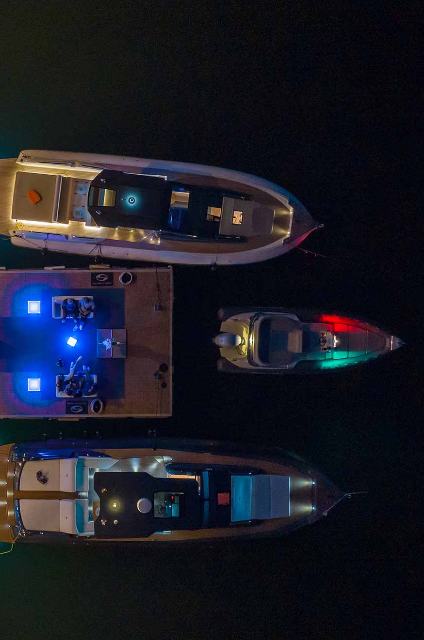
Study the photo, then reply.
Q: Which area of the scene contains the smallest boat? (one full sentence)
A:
The smallest boat appears toward the right of the photo.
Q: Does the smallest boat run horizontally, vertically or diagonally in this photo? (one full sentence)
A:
In this picture, the smallest boat lies horizontally.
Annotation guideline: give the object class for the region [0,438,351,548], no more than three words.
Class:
boat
